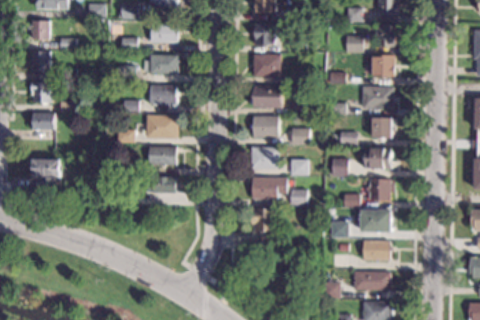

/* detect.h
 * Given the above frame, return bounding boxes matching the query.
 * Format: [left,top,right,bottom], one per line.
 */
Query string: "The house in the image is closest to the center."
[250,147,280,172]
